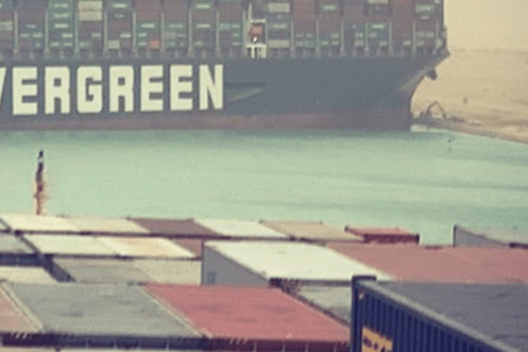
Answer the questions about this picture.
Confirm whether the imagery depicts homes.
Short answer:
No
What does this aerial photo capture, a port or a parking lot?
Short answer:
port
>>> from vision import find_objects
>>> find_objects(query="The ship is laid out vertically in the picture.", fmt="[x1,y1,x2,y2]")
[32,155,48,215]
